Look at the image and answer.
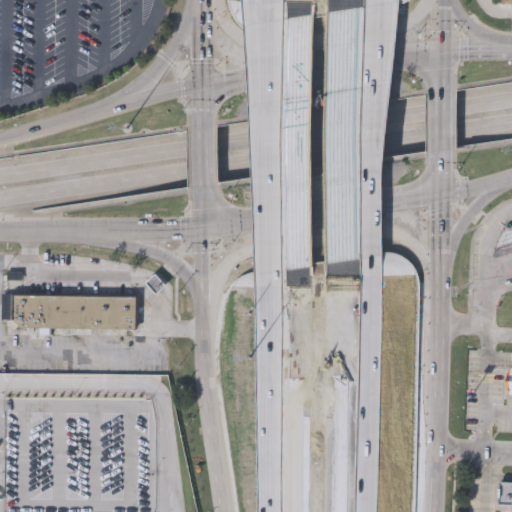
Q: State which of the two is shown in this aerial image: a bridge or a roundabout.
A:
bridge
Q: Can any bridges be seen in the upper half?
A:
Yes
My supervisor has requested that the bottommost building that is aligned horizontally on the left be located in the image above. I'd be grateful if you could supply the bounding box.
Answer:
[2,293,136,338]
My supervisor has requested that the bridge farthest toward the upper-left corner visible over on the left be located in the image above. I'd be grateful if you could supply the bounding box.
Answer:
[188,129,219,186]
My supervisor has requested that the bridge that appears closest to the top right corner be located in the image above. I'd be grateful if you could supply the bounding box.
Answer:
[424,93,458,151]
